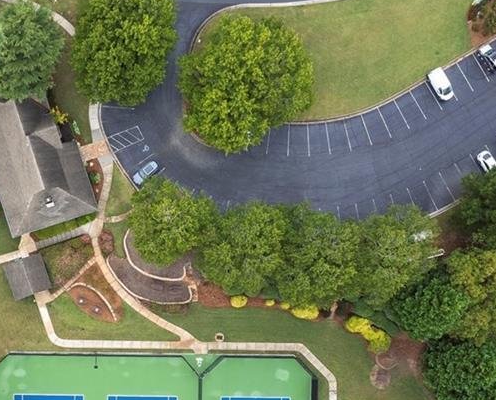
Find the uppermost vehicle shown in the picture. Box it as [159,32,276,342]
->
[477,40,496,74]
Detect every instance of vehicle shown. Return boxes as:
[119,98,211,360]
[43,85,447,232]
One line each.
[477,40,496,74]
[427,64,453,101]
[131,158,162,186]
[474,147,496,175]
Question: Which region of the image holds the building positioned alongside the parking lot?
left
